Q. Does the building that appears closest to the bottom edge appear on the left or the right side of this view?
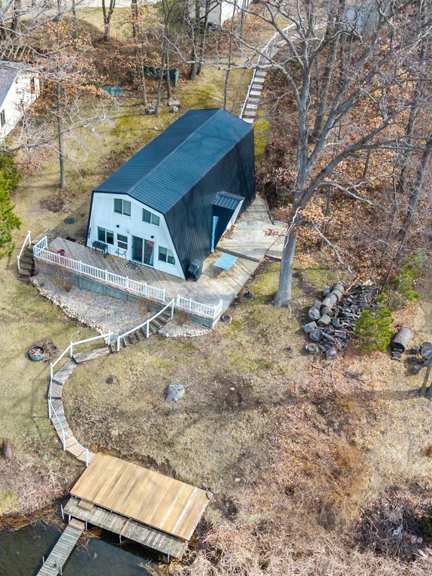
left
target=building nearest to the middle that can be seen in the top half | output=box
[81,104,266,282]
